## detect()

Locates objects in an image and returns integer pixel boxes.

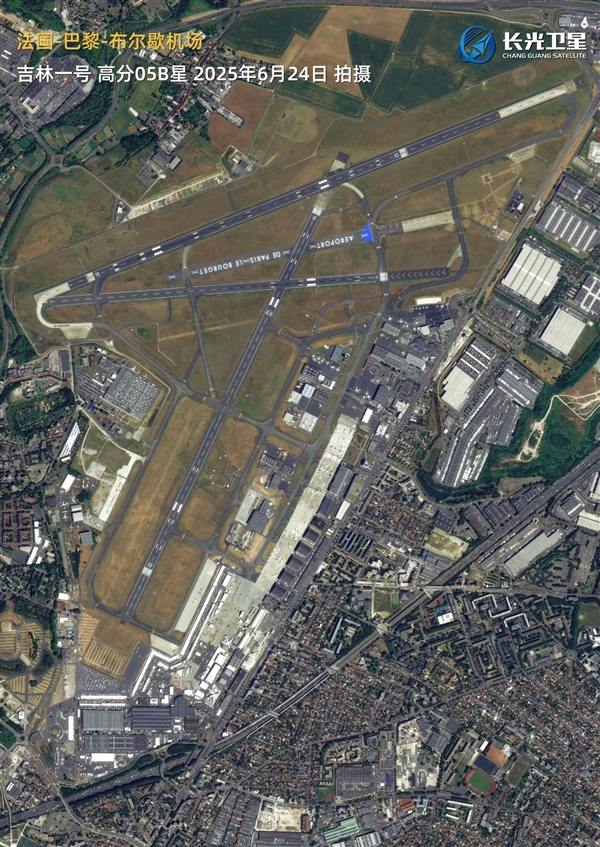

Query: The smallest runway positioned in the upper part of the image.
[166,223,375,283]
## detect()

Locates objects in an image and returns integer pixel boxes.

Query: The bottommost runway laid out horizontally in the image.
[46,266,449,307]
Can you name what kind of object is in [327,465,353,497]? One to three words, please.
hangar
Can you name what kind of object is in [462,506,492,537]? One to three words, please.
building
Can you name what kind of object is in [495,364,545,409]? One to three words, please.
building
